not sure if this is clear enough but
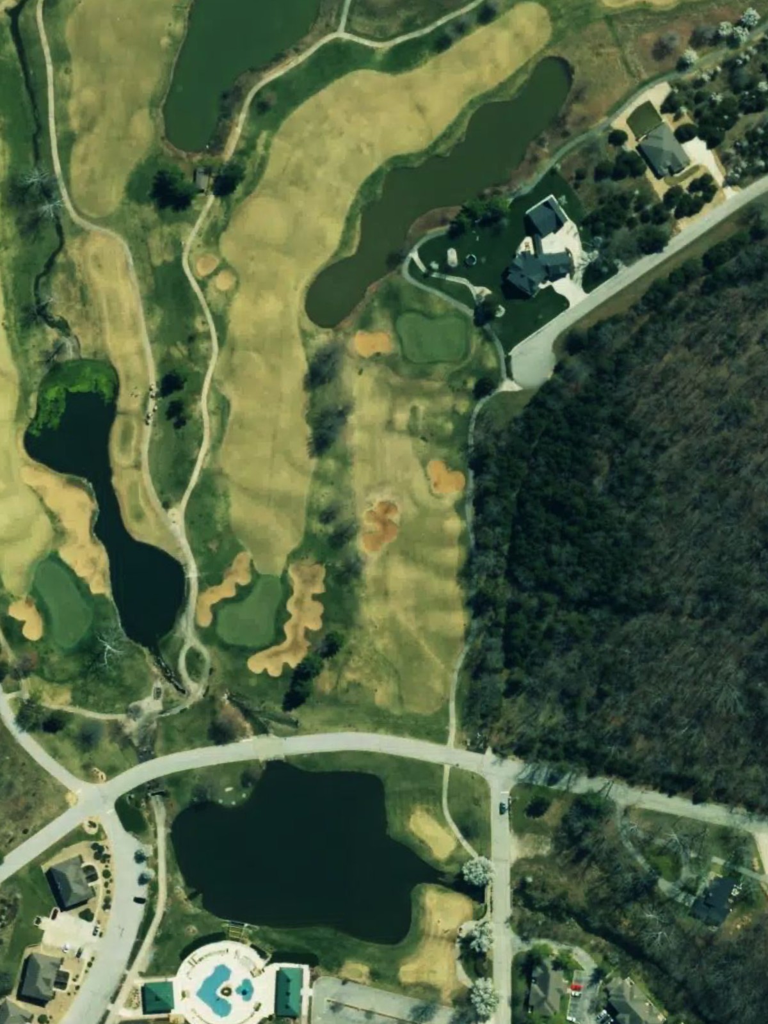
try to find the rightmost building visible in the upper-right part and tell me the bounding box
[639,121,693,179]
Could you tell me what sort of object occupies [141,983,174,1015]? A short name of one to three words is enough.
building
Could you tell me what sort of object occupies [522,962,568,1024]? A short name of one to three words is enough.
house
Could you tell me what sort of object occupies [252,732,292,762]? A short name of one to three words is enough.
bridge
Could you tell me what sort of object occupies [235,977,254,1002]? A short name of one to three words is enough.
swimming pool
